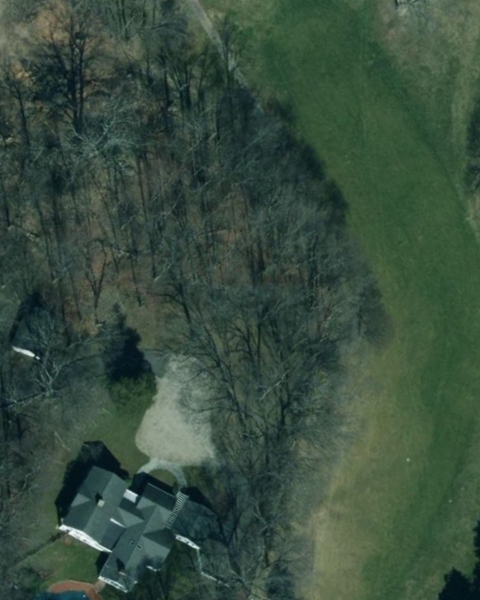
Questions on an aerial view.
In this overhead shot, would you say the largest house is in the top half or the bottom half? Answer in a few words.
bottom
